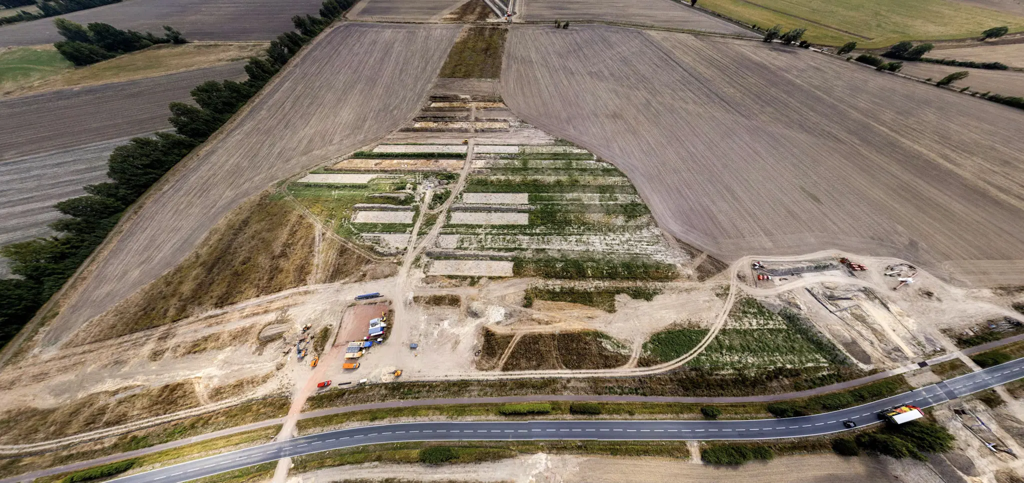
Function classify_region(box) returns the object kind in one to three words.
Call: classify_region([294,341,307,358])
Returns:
vehicle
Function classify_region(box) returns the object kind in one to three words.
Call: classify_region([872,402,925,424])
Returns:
truck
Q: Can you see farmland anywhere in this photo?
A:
Yes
